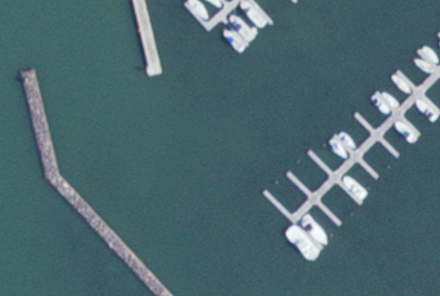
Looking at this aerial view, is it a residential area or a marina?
marina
